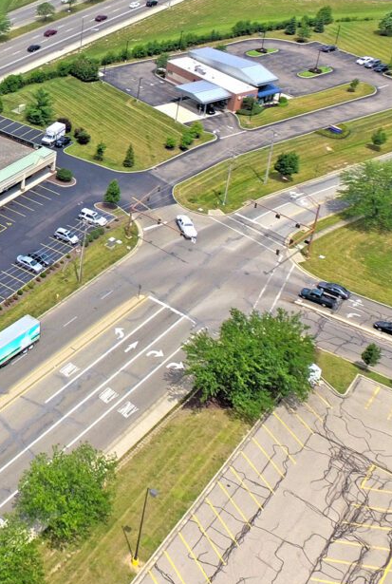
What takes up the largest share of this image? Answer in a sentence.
What you mostly see from above here is paved ground.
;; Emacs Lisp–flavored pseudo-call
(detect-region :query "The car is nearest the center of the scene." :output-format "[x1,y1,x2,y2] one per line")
[178,217,197,235]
